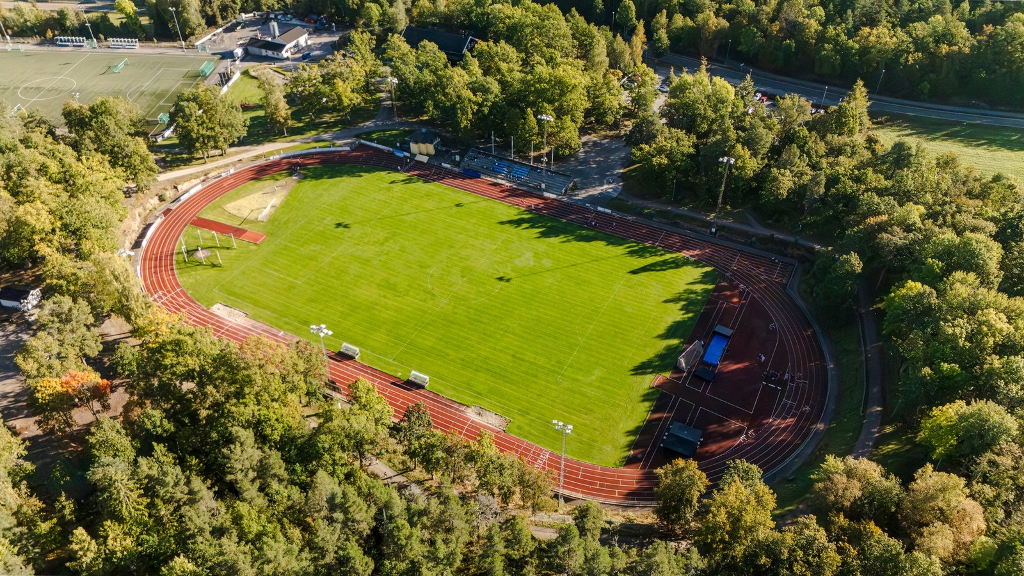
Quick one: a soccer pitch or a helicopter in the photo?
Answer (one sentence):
Of the two, only a soccer pitch appears.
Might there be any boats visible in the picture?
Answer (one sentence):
No, no boat is visible in the view.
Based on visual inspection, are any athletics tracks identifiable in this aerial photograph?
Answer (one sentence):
Yes, there's an athletics track down there.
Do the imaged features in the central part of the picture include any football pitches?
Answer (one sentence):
Yes, a football pitch can be seen in the central part of the picture.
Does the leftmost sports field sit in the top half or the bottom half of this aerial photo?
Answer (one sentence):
The top half of the photo is where the leftmost sports field is.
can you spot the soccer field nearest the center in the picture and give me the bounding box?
[179,163,724,466]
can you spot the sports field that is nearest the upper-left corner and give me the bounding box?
[0,49,224,134]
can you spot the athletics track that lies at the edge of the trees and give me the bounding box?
[147,151,827,500]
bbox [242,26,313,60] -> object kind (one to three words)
building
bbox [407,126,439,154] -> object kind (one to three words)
building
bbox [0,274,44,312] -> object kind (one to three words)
house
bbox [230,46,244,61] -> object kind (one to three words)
vehicle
